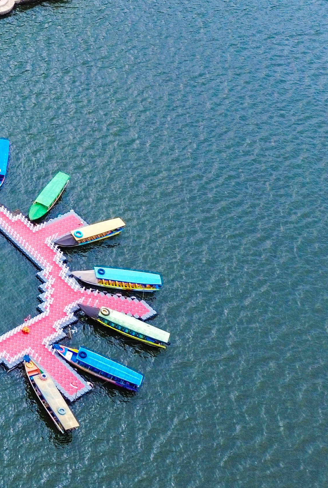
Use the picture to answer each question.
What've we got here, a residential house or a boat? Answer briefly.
boat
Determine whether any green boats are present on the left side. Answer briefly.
Yes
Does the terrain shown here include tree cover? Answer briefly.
No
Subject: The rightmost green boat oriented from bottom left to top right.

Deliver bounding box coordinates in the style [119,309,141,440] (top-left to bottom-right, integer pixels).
[32,164,73,220]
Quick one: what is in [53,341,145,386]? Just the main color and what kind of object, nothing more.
blue boat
